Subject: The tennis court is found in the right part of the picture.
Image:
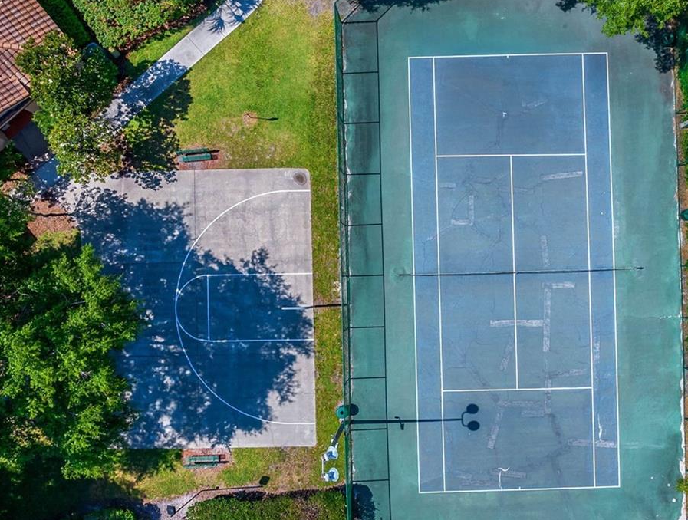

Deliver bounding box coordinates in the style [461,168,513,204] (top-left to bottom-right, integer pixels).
[342,0,687,520]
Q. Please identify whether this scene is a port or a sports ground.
sports ground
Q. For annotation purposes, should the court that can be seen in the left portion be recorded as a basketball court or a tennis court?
basketball court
